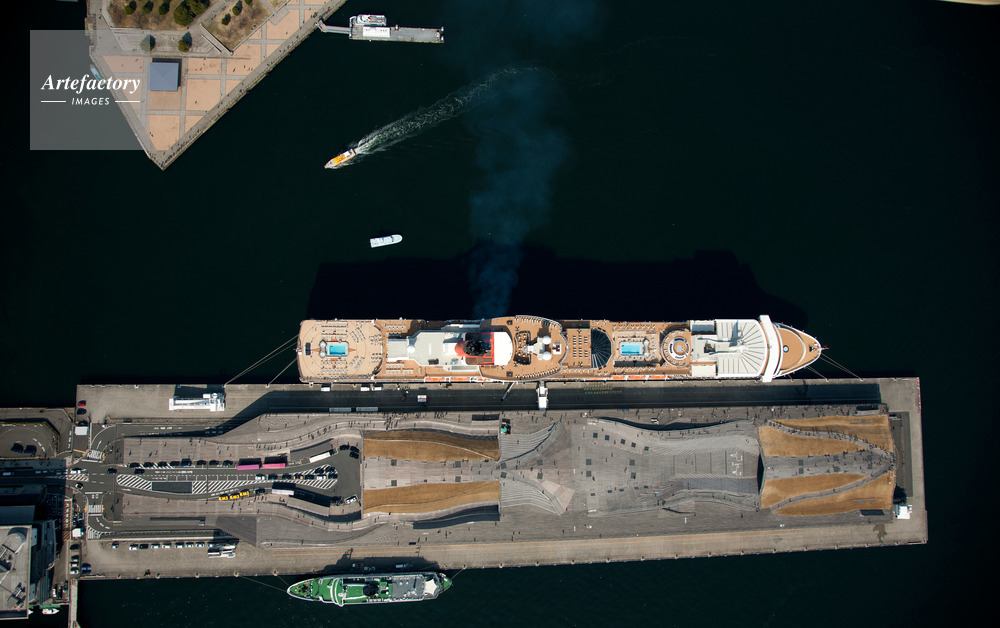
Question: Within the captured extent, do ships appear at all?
Yes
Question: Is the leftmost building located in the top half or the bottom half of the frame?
bottom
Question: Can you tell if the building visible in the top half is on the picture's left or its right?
left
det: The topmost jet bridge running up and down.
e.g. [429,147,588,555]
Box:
[536,381,549,409]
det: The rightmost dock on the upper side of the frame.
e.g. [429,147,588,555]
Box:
[348,14,443,44]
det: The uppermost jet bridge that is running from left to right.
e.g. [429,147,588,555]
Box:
[165,394,229,411]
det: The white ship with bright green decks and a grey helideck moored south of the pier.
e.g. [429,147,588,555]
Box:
[288,572,451,607]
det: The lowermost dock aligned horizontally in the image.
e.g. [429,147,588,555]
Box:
[78,377,928,581]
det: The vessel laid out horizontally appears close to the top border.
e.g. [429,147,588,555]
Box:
[355,13,387,25]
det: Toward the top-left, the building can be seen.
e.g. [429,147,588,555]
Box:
[149,63,180,91]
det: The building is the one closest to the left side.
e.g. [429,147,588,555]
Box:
[0,504,65,620]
